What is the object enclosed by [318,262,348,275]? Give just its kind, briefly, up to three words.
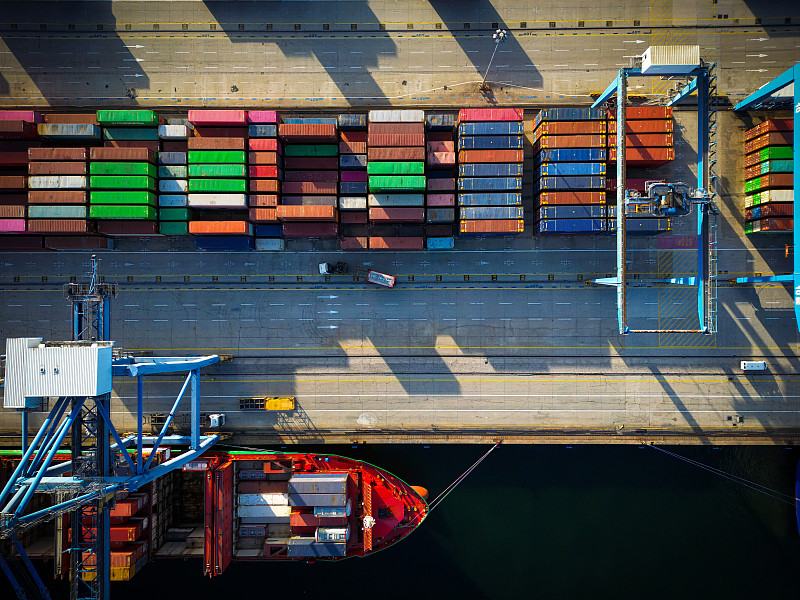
vehicle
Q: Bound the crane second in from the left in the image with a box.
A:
[578,45,722,336]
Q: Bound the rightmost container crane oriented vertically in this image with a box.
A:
[729,66,800,333]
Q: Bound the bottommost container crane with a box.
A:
[0,252,241,600]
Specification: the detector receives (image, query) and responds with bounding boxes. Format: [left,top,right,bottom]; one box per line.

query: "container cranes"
[578,45,722,336]
[729,66,800,333]
[0,252,241,600]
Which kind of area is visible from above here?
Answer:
port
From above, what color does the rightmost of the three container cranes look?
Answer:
blue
